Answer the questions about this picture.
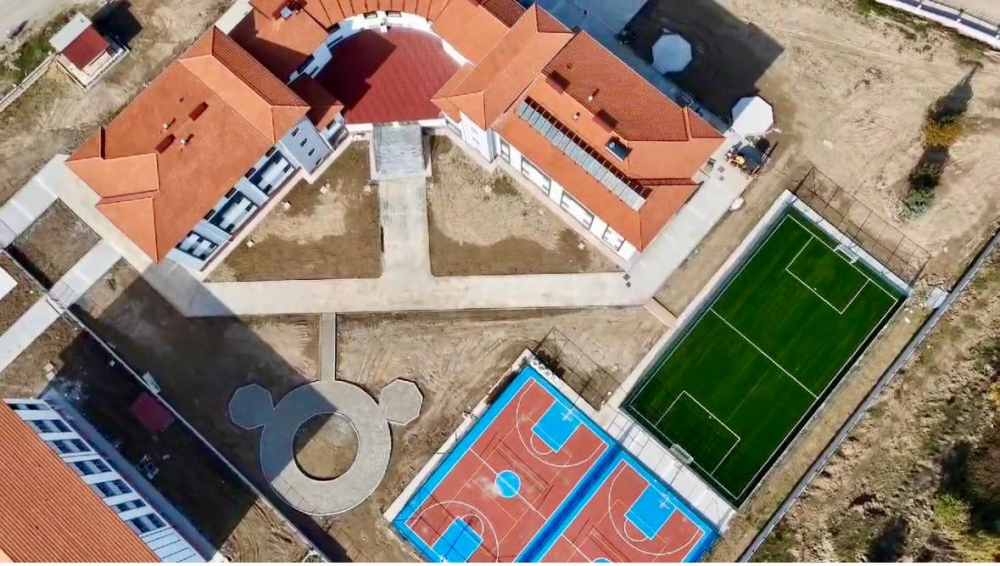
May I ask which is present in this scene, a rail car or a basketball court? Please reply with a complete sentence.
The image shows a basketball court.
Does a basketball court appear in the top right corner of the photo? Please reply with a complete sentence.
No, no basketball court appears in the top right corner of the photo.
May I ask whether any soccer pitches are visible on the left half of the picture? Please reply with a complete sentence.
No, the scene shows no soccer pitch on the left half of the picture.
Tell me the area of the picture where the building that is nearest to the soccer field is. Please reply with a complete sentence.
The building that is nearest to the soccer field is in the top part of the image.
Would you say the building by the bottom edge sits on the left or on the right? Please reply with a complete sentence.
The building by the bottom edge appears in the left half of the scene.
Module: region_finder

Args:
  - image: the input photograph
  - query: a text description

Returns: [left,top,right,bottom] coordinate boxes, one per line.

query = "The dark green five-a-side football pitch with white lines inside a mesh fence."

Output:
[617,204,907,509]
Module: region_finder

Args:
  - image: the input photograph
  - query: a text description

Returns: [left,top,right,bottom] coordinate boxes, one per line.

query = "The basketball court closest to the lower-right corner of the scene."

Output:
[520,446,719,566]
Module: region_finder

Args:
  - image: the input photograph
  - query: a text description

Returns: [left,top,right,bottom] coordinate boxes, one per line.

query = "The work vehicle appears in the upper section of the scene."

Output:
[722,139,758,182]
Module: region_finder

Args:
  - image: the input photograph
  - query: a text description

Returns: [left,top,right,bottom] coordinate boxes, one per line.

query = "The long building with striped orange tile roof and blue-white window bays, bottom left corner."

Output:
[0,391,211,566]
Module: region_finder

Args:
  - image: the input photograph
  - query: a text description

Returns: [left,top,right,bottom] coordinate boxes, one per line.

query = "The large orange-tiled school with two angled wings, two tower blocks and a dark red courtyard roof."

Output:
[66,0,724,274]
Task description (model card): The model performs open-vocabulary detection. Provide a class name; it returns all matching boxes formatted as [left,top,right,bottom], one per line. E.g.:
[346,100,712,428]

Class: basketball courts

[520,446,719,566]
[393,365,621,566]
